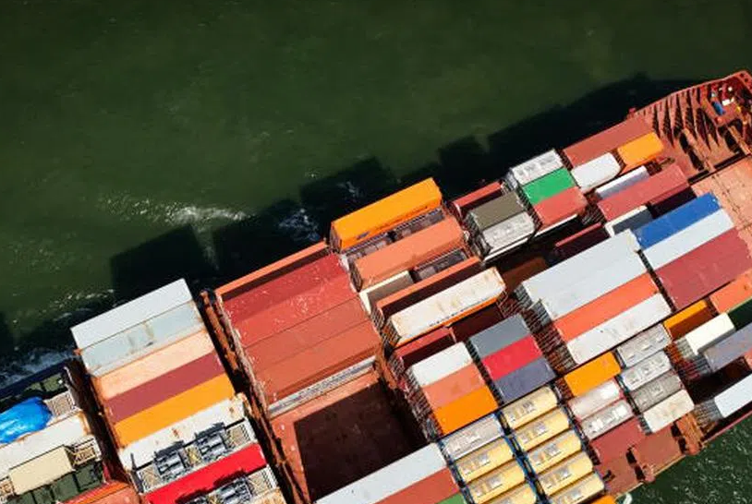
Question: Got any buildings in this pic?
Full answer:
No, no building is visible in the scene.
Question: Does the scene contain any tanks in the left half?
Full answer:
No, there's no tank to be seen in the left half.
